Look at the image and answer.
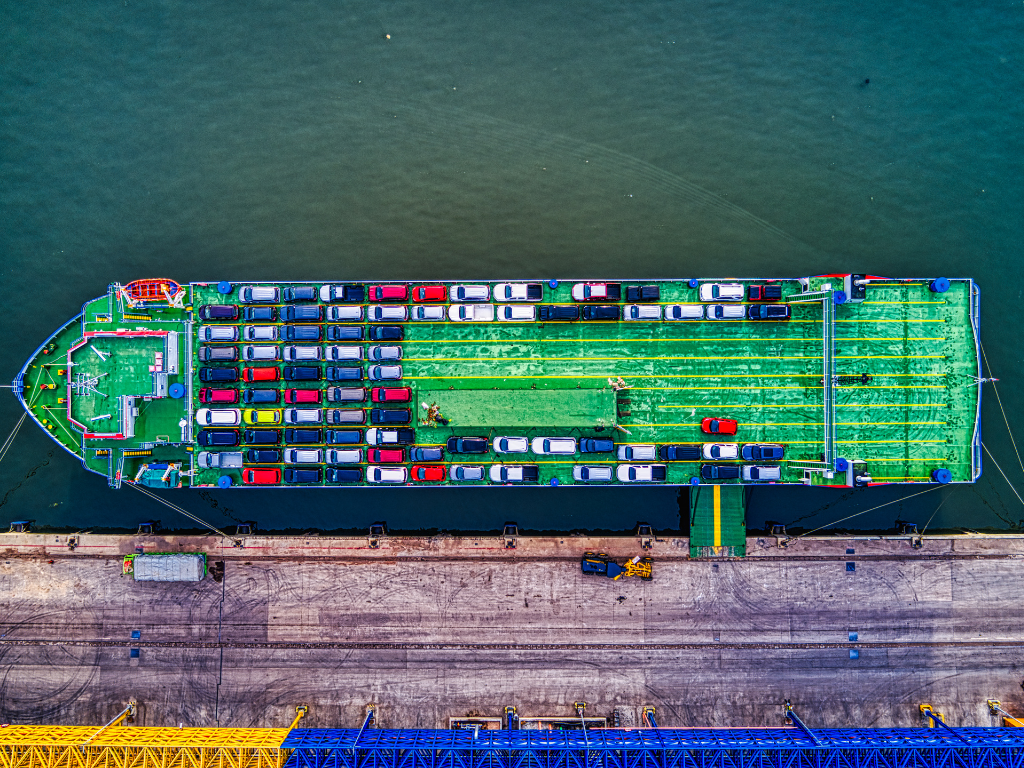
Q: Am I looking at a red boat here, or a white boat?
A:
red boat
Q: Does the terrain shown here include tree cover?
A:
No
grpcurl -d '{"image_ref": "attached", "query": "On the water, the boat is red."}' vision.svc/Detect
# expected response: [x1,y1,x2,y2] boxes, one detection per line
[125,279,183,301]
